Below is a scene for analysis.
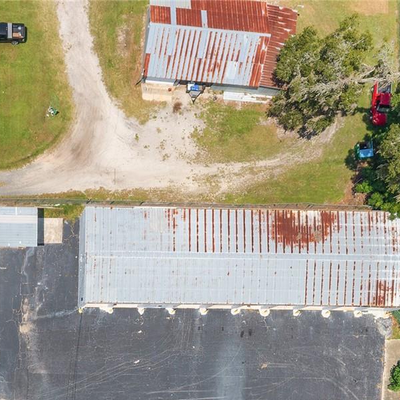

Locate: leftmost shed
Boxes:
[0,207,38,251]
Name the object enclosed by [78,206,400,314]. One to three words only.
building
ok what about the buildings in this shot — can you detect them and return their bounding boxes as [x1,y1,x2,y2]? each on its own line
[0,207,38,251]
[78,206,400,314]
[139,0,299,100]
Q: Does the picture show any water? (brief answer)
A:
No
